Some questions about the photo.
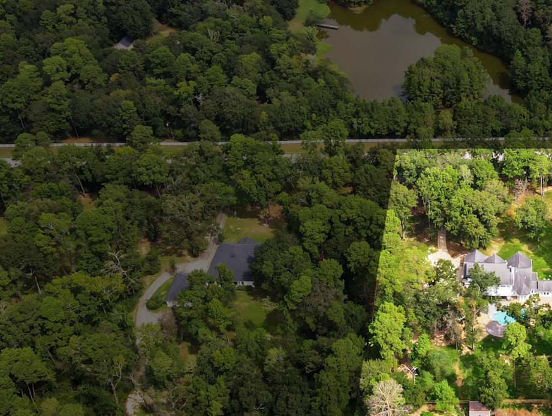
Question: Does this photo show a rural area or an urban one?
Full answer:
The area shown here is rural.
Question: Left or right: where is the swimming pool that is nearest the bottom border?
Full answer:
The swimming pool that is nearest the bottom border appears in the right half of the scene.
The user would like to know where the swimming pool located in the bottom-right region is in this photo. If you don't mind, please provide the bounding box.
[490,306,526,327]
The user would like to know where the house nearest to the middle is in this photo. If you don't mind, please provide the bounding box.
[204,234,269,288]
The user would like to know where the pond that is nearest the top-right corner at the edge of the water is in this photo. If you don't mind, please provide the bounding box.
[316,0,533,114]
